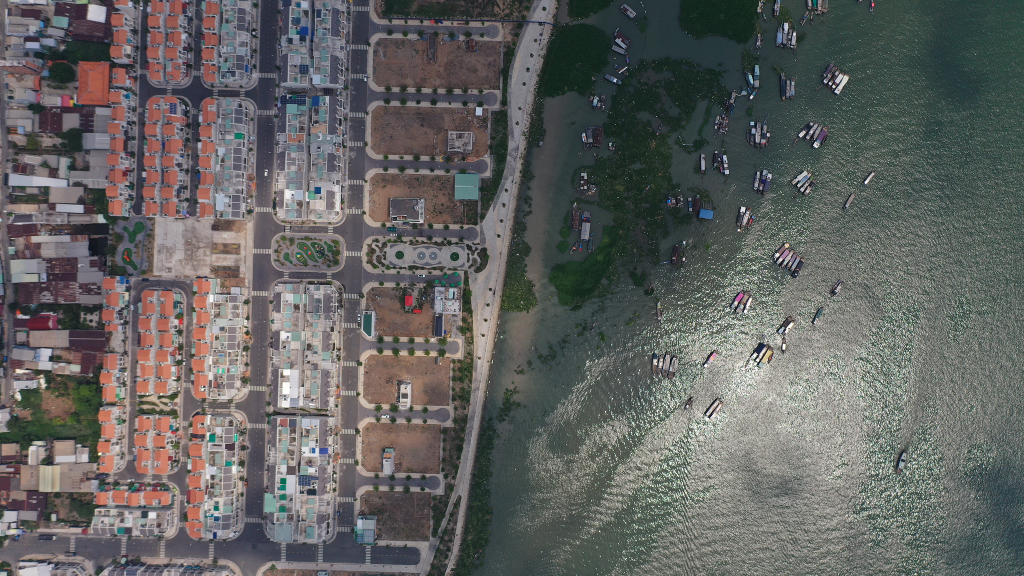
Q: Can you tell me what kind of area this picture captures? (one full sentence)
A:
The picture captures a residential area.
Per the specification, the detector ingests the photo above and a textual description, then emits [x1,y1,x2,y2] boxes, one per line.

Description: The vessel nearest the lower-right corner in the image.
[896,450,908,474]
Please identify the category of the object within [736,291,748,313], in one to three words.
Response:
boat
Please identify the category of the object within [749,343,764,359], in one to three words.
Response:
boat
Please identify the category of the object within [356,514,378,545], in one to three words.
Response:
house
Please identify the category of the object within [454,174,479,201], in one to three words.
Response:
building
